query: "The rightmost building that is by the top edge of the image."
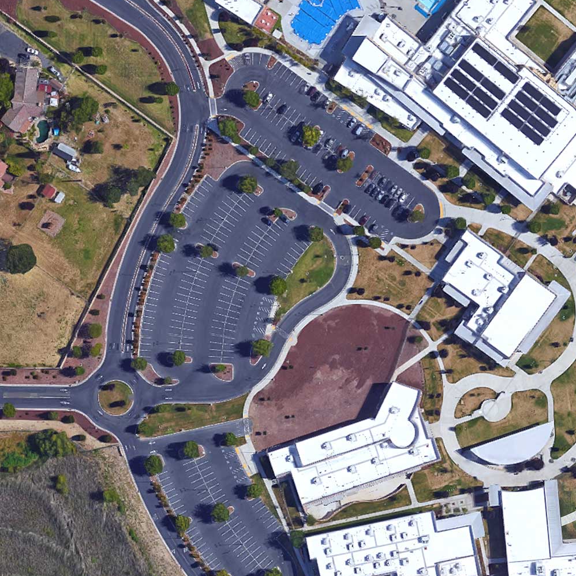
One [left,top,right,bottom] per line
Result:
[335,0,576,206]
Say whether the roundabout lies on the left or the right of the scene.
left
